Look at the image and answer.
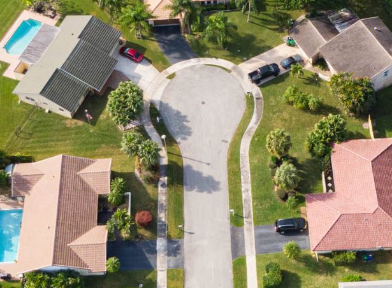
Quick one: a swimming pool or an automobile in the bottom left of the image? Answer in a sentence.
The one visible in the bottom left of the image is a swimming pool.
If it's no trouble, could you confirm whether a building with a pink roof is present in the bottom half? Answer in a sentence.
Yes, there is a building with a pink roof in the bottom half.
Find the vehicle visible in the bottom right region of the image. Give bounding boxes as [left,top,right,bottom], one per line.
[274,216,307,234]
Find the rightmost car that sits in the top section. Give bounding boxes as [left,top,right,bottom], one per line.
[278,53,305,71]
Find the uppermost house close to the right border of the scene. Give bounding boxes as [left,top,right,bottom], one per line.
[289,10,392,92]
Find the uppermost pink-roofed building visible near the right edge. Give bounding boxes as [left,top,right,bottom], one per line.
[305,140,392,256]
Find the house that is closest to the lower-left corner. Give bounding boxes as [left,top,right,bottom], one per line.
[11,155,114,281]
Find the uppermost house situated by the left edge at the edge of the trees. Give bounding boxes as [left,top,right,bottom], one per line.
[12,14,134,121]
